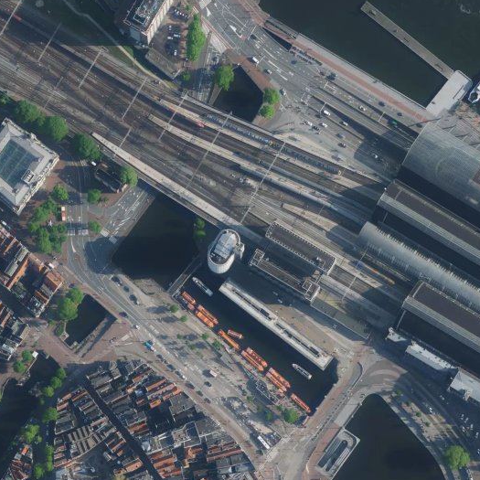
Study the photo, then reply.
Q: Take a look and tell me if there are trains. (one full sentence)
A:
Yes, there's a train down there.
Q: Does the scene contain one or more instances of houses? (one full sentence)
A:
Yes, there is a house in the image.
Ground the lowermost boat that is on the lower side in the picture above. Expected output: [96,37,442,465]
[290,393,311,413]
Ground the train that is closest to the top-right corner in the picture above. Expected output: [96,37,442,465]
[274,143,339,174]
